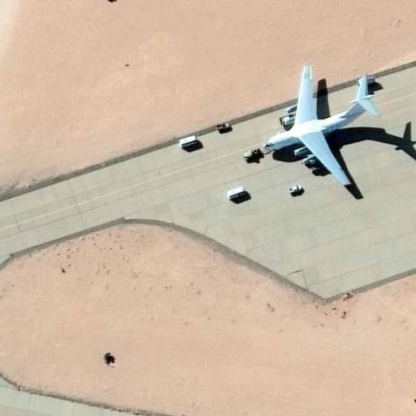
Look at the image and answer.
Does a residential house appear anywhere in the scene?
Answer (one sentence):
No, the photo shows no residential house.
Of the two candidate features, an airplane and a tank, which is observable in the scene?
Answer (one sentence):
It is an airplane that can be seen here.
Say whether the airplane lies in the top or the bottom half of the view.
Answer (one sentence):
Seen from above, the airplane lies in the top half of the view.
